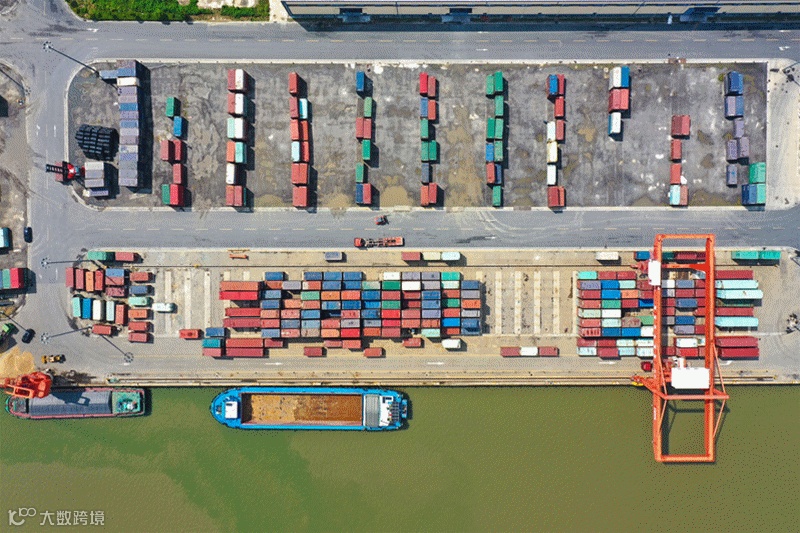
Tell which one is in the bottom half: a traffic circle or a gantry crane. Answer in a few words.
gantry crane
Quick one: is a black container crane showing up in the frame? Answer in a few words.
No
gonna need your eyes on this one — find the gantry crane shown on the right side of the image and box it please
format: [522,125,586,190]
[622,237,730,460]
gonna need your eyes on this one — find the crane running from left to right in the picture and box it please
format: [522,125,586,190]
[4,371,64,399]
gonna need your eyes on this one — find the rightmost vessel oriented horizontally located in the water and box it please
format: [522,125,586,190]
[212,386,401,431]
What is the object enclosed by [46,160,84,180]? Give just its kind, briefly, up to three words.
work vehicle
